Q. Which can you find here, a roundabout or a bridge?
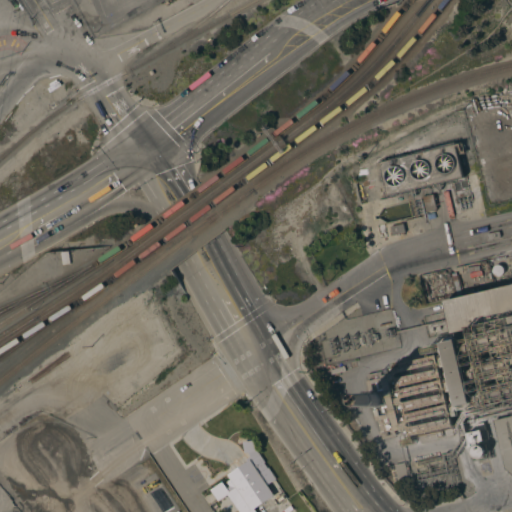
bridge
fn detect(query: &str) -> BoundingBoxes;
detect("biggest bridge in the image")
[154,186,245,267]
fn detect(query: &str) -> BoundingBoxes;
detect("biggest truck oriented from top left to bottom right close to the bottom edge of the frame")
[334,451,363,490]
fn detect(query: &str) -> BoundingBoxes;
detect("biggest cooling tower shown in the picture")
[381,141,468,198]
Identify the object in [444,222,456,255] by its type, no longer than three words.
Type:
vehicle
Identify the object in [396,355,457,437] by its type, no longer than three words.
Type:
building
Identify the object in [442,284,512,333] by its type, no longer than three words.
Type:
building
